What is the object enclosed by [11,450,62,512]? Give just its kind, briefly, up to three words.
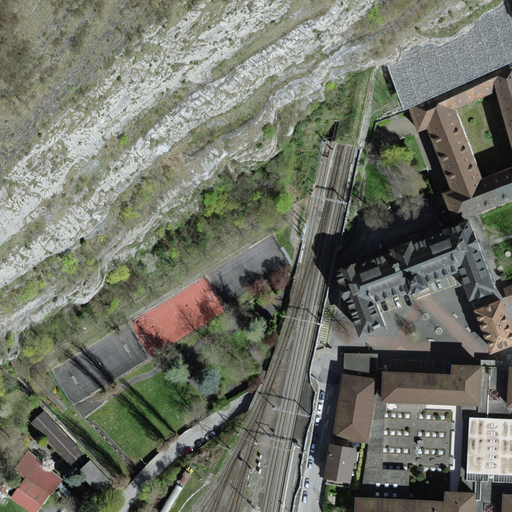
house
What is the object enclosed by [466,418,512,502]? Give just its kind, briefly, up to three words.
building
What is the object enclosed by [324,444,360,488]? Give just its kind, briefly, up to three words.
house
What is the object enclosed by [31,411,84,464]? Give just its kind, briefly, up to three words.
shed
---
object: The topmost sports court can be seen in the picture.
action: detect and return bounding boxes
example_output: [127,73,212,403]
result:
[206,235,289,309]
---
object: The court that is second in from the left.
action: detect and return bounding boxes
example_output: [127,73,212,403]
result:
[132,278,225,356]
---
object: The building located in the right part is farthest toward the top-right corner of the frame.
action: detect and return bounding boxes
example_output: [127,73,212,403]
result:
[388,2,512,109]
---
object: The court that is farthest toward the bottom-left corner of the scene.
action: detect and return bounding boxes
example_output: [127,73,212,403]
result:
[52,324,148,404]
